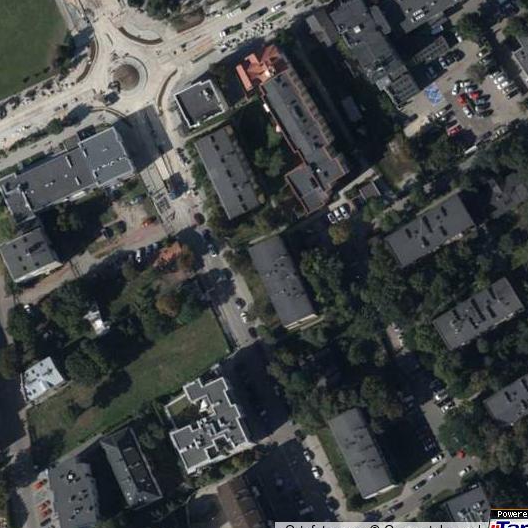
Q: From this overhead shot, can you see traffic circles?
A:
Yes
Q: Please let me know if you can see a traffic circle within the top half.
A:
Yes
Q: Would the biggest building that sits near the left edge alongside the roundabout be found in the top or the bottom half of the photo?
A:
top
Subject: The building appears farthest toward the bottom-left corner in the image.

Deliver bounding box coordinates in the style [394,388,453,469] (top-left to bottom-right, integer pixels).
[48,457,100,528]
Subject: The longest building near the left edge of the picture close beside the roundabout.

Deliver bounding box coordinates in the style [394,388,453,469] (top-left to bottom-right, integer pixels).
[15,127,135,220]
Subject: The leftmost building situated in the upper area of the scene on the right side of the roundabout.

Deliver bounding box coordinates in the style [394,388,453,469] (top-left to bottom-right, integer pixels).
[176,81,226,129]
